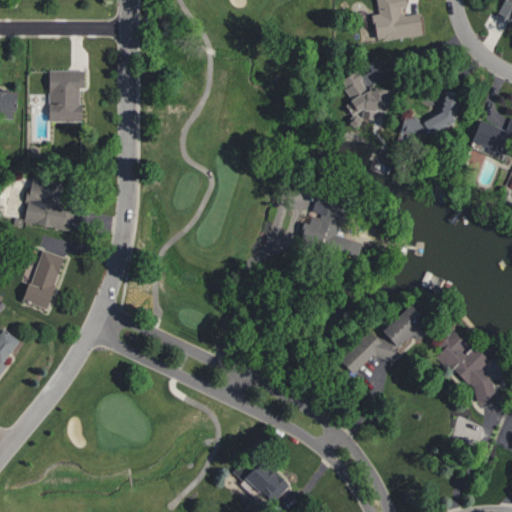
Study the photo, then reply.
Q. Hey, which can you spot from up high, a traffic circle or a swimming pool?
swimming pool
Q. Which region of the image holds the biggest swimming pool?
top left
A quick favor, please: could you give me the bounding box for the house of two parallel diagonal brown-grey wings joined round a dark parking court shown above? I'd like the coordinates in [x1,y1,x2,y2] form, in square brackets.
[345,308,419,373]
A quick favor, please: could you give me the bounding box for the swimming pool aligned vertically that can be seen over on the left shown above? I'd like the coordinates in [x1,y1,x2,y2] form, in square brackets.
[30,94,50,144]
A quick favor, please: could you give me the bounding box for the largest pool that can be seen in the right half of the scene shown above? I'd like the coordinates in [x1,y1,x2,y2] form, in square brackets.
[476,154,500,190]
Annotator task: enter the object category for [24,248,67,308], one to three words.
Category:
house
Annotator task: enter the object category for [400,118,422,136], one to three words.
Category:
house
